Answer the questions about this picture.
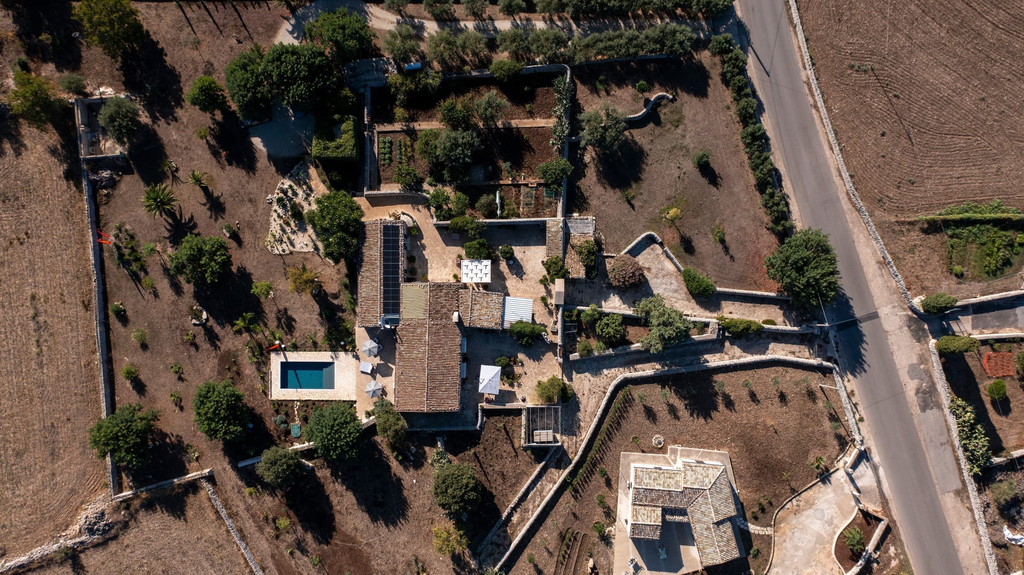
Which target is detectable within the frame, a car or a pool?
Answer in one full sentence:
This aerial view contains a pool.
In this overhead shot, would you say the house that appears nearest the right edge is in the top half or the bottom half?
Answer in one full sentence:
It is in the bottom half that the house that appears nearest the right edge appears.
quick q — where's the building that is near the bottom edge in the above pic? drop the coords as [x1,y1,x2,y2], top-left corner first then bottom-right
[623,457,740,566]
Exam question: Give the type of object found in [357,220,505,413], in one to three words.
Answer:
house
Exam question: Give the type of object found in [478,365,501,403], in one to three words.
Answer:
umbrella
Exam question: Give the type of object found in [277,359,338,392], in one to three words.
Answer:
swimming pool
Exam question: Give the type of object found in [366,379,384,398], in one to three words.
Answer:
umbrella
